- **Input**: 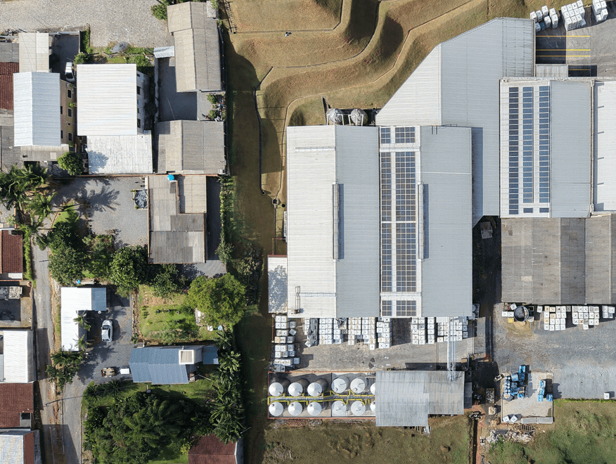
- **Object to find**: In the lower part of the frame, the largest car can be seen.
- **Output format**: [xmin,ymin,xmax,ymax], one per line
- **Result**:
[101,320,114,342]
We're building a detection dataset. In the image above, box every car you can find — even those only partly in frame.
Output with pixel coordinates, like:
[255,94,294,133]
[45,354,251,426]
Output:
[62,59,77,80]
[101,320,114,342]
